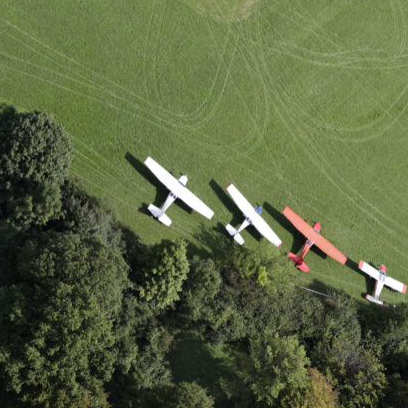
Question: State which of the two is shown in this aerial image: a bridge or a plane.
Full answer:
The image shows a plane.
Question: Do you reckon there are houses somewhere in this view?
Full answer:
No, there's no house here.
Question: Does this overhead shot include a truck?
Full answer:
No, there appears to be no truck in this shot.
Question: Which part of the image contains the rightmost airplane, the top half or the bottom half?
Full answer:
It is in the bottom half that the rightmost airplane appears.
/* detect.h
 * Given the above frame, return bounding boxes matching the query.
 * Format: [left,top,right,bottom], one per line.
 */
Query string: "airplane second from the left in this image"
[223,184,283,245]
